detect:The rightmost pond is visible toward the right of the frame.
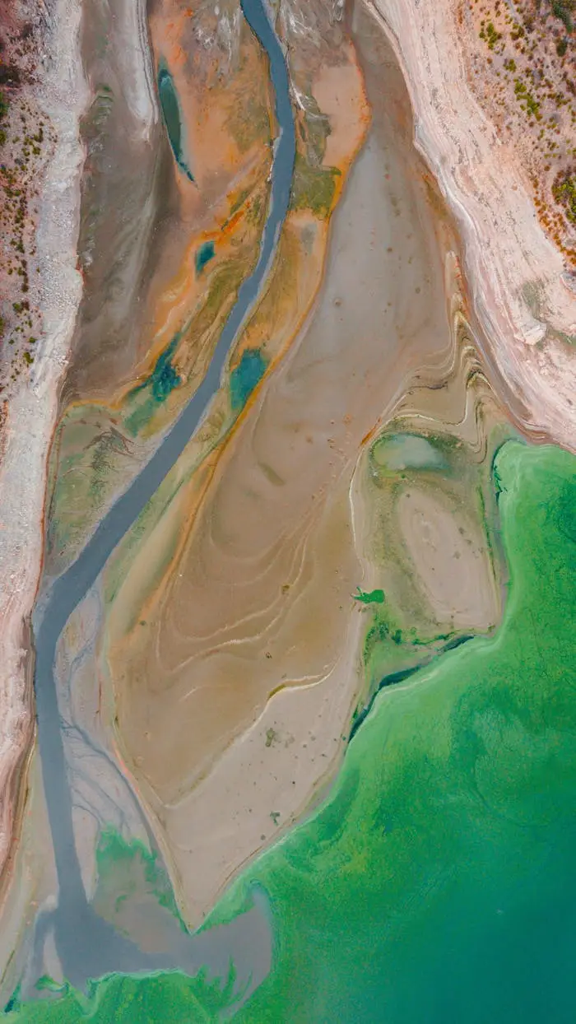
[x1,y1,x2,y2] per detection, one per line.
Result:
[372,432,447,472]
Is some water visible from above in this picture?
Yes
